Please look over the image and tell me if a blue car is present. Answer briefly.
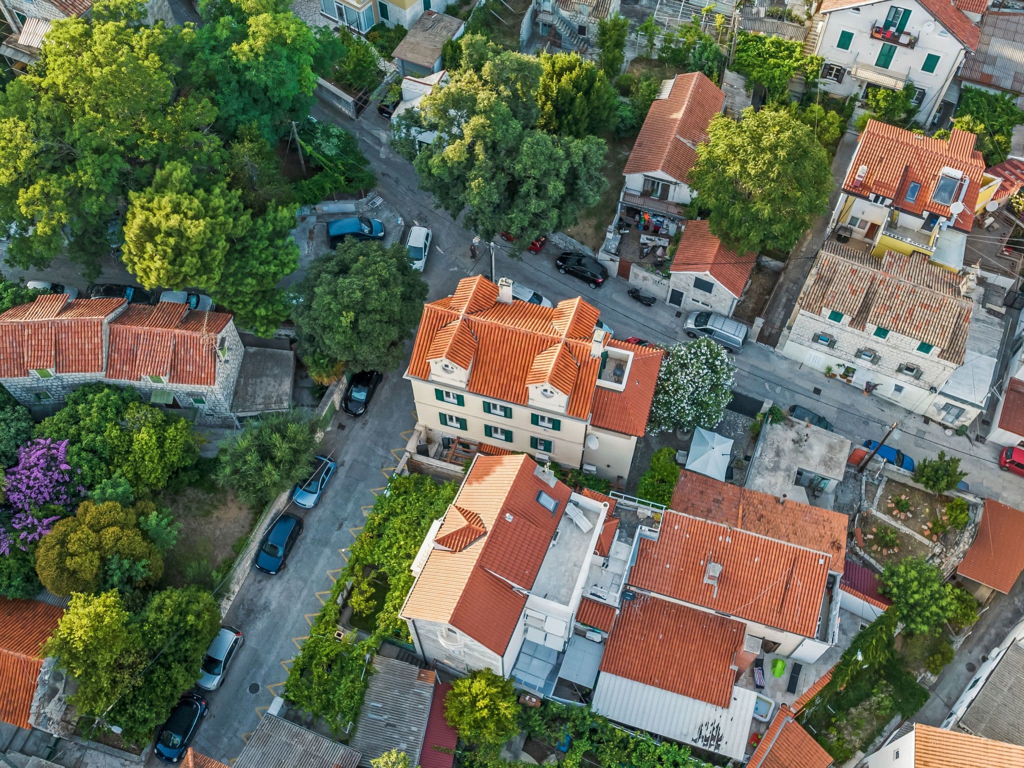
Yes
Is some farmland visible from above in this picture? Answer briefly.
No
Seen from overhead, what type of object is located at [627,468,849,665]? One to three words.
house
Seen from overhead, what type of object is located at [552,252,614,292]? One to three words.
car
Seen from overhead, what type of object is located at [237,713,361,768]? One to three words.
shed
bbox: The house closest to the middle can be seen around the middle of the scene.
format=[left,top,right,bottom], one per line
[407,273,666,483]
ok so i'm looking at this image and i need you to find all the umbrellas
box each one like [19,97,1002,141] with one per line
[685,427,746,480]
[655,238,666,254]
